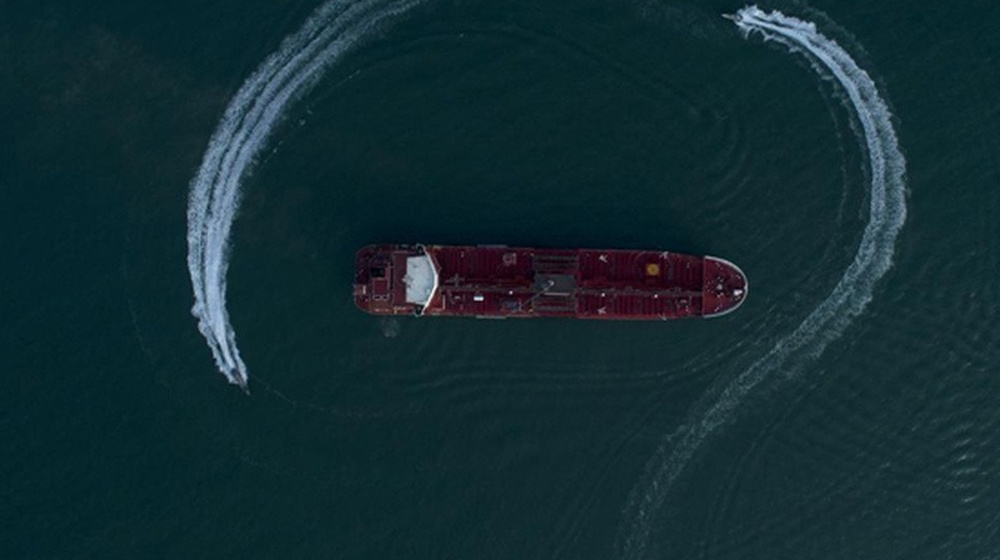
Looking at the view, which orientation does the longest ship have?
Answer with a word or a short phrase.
from side to side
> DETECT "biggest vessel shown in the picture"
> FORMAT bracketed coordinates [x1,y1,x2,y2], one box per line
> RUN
[354,242,749,321]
